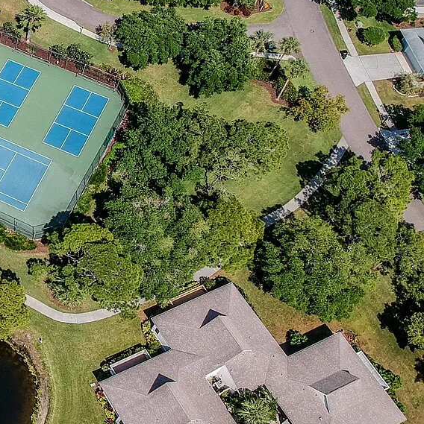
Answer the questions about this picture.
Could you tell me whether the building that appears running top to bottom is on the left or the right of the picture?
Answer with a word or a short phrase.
right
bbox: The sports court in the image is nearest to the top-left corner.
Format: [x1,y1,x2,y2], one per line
[0,59,41,128]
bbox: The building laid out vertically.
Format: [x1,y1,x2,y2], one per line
[393,19,424,83]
